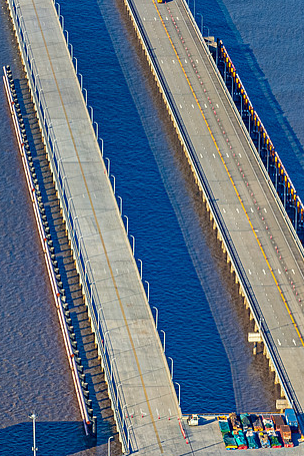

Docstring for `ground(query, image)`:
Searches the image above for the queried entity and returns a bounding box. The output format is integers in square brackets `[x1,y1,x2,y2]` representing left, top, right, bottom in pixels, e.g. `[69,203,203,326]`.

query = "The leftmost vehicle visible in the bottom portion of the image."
[187,411,200,426]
